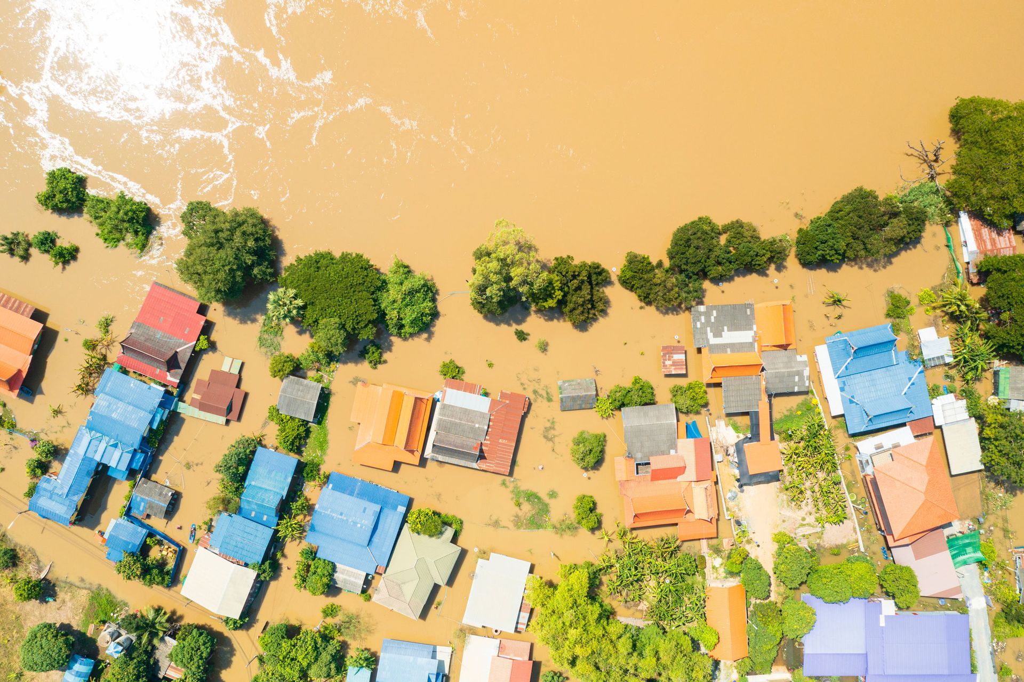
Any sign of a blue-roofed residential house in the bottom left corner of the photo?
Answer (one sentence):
Yes, looking in the bottom left corner of the photo, one can make out a blue-roofed residential house.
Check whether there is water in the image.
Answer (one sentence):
Yes, some water is visible.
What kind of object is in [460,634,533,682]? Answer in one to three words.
house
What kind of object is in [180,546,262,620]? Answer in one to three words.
house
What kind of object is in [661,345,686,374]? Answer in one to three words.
shed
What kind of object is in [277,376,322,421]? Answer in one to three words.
shed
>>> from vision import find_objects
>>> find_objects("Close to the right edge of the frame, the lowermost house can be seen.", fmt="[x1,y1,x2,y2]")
[798,592,977,682]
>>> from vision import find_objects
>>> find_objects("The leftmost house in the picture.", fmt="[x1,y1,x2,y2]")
[0,294,46,398]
